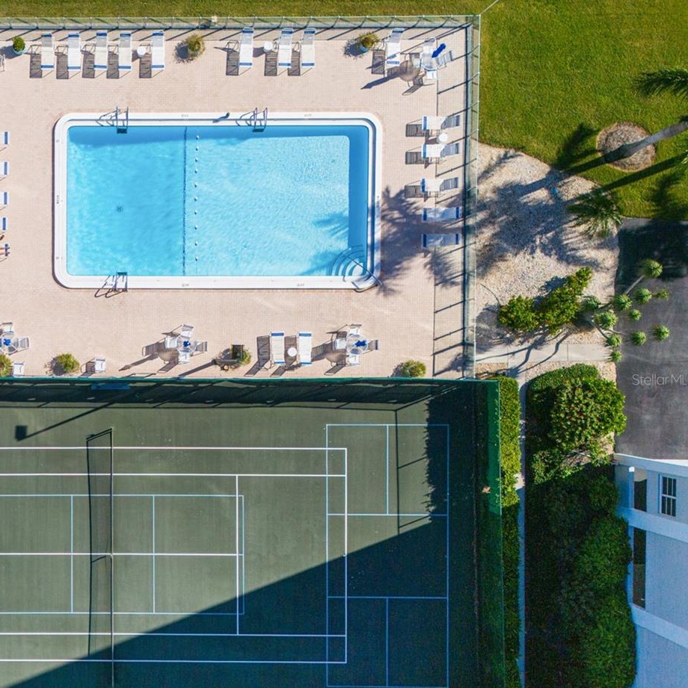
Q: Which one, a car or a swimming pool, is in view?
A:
swimming pool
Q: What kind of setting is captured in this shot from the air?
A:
sports ground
